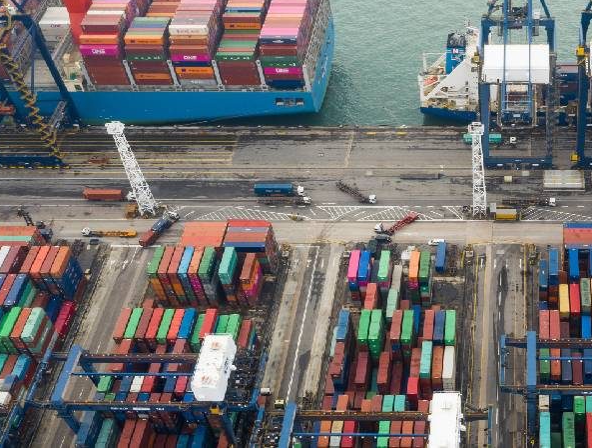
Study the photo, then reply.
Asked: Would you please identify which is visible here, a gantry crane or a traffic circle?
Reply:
gantry crane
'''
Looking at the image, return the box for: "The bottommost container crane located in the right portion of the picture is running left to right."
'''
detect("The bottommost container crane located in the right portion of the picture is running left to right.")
[254,394,499,448]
